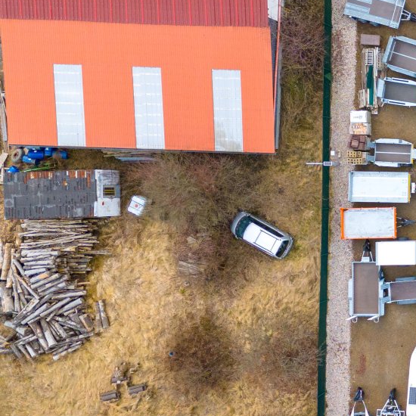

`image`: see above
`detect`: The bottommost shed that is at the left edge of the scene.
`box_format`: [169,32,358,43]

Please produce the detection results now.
[4,169,121,220]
